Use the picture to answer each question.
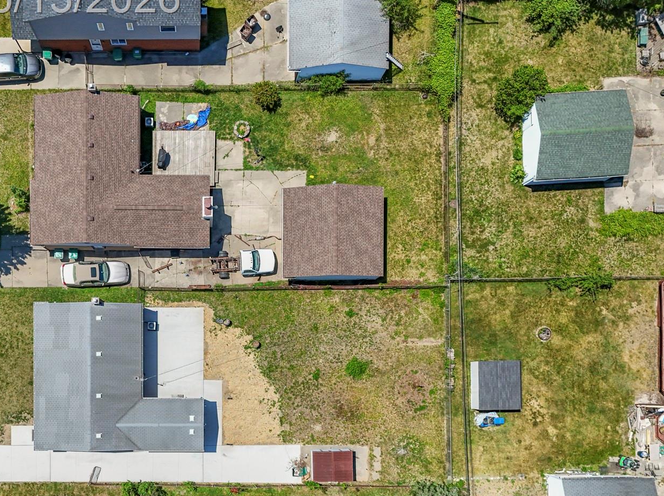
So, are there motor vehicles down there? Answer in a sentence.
Yes, looking at the shot, I can spot a motor vehicle.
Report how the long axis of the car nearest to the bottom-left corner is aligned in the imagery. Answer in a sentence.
What the image shows is the car nearest to the bottom-left corner lying from side to side.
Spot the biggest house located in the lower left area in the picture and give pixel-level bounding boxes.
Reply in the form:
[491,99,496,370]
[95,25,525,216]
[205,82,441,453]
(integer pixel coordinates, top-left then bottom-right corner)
[33,297,205,452]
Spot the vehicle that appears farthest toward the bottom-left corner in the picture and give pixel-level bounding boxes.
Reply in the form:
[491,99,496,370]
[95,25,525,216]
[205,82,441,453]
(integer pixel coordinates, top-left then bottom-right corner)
[62,258,131,289]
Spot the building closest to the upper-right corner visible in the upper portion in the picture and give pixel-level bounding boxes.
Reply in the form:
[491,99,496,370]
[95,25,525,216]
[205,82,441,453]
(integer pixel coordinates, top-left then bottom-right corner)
[519,89,635,186]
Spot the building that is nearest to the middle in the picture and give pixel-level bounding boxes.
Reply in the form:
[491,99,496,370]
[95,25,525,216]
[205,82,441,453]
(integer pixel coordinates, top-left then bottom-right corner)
[282,180,385,283]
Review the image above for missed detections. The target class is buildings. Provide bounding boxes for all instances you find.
[311,450,353,481]
[288,0,390,78]
[519,89,635,186]
[29,84,213,250]
[10,0,211,55]
[470,361,522,410]
[546,474,659,496]
[33,297,205,452]
[282,180,385,283]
